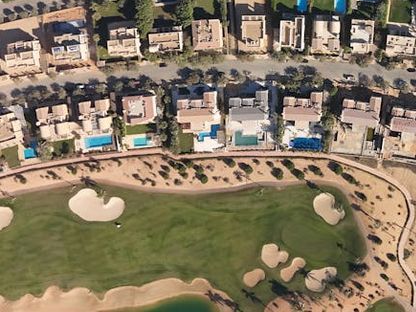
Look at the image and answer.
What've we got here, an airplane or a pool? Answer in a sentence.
Of the two, only a pool appears.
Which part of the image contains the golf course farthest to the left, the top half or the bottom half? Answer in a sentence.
You can find the golf course farthest to the left in the bottom half.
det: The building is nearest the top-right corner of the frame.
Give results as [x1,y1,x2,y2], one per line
[387,34,416,56]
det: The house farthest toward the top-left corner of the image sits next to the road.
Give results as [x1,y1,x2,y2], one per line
[5,39,44,75]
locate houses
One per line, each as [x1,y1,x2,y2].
[5,39,44,75]
[109,27,143,56]
[283,91,324,129]
[37,103,72,138]
[121,94,158,124]
[192,19,224,51]
[149,30,185,51]
[279,16,307,49]
[312,15,341,54]
[0,109,27,140]
[177,92,219,130]
[389,106,416,141]
[242,15,267,47]
[53,30,93,67]
[341,95,383,132]
[387,34,416,56]
[80,98,115,132]
[350,20,375,53]
[228,91,271,129]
